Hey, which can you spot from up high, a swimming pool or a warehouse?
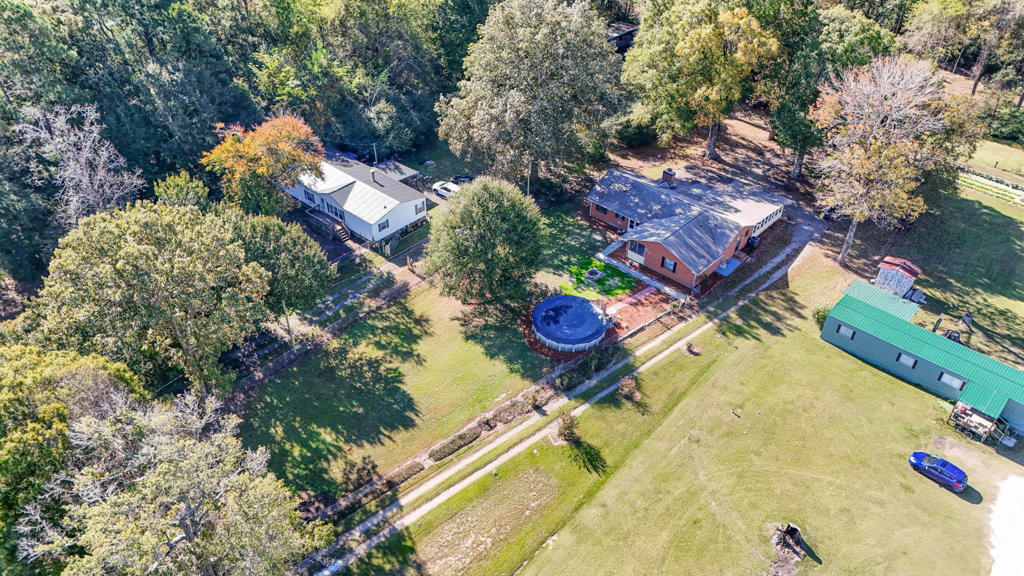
swimming pool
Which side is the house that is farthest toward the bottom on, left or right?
right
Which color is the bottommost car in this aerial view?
blue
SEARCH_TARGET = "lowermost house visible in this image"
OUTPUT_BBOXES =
[821,281,1024,450]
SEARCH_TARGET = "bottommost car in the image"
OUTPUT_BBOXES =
[908,448,972,490]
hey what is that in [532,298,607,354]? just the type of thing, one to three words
swimming pool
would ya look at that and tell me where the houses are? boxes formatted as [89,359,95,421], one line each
[821,281,1024,450]
[580,166,792,290]
[265,151,426,244]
